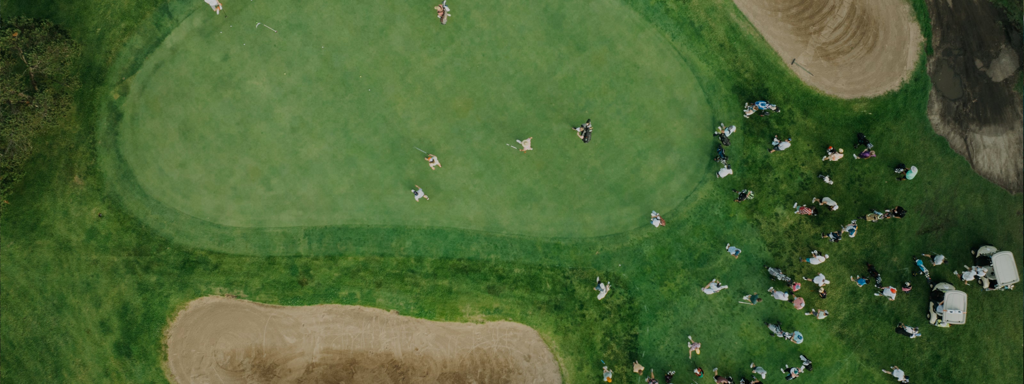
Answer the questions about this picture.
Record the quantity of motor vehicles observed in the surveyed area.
two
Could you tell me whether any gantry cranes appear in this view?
No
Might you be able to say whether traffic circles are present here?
No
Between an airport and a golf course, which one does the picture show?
golf course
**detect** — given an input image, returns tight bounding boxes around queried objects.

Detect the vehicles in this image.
[925,282,967,324]
[969,244,1020,288]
